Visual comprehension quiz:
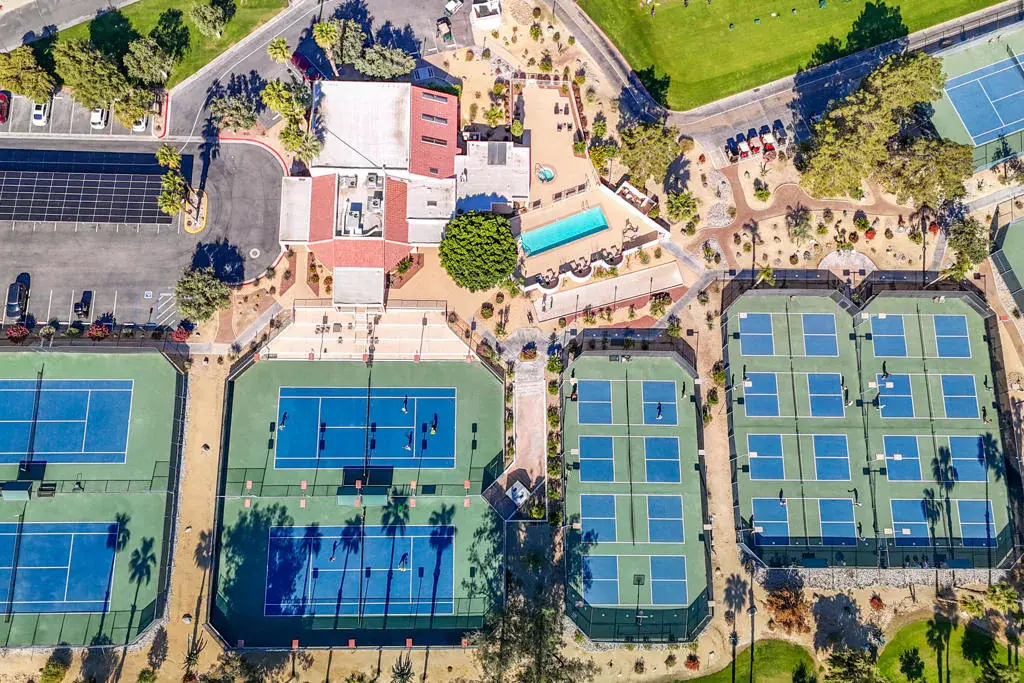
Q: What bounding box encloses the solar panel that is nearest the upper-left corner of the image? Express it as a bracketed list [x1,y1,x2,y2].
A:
[0,174,174,223]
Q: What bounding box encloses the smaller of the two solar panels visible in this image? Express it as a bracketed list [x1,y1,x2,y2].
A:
[488,143,505,166]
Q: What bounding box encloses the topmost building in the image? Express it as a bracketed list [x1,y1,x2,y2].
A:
[472,0,503,41]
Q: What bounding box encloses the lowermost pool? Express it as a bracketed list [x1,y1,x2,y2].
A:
[518,201,611,259]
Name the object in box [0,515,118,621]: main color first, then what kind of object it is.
blue tennis court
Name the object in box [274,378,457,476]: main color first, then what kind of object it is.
blue tennis court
